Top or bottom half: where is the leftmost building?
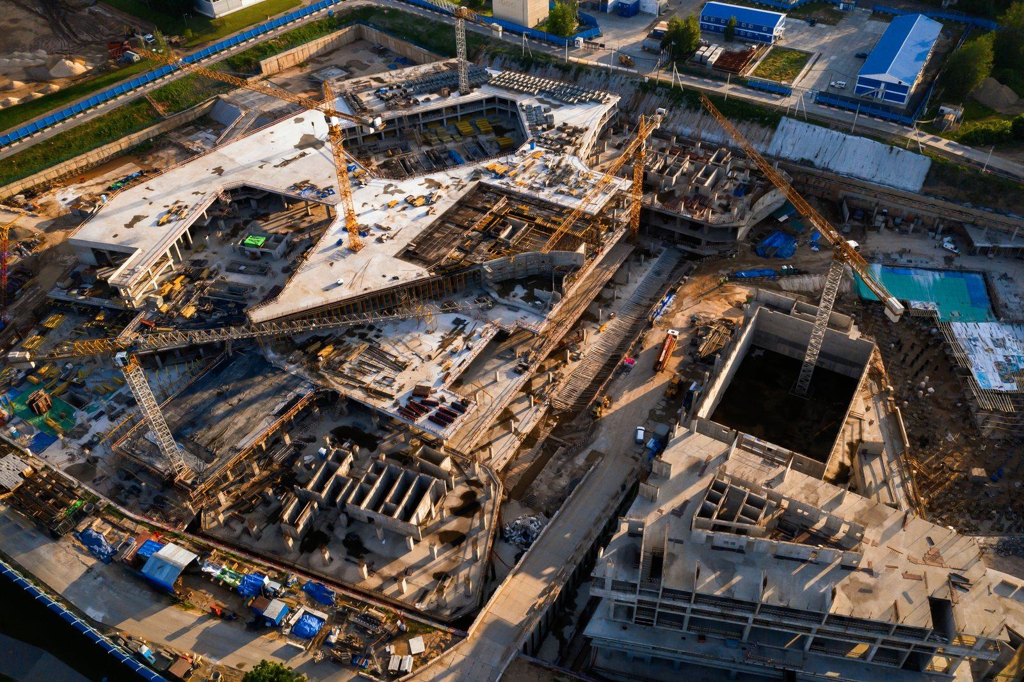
bottom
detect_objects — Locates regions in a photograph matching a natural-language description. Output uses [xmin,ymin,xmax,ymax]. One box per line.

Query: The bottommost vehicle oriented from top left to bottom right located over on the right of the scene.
[643,422,668,452]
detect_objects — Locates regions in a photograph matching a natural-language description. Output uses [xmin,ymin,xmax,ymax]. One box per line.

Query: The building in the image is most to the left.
[0,458,87,536]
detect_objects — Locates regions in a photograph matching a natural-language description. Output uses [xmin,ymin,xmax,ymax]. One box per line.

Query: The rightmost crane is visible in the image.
[699,94,899,394]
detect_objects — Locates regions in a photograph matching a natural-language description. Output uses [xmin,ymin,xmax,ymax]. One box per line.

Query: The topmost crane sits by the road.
[415,0,493,97]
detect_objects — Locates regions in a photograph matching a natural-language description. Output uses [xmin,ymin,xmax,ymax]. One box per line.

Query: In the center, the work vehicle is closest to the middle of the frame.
[591,391,613,413]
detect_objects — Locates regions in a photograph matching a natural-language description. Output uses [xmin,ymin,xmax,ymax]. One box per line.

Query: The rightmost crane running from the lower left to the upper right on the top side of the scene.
[543,117,661,251]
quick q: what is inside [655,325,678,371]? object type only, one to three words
truck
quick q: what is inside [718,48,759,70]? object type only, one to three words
building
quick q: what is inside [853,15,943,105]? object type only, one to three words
building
